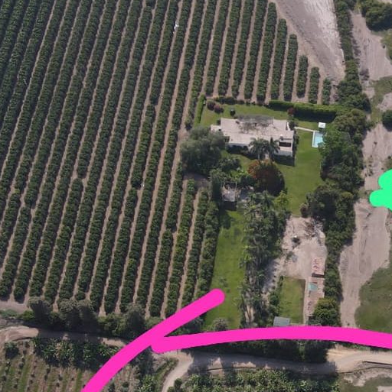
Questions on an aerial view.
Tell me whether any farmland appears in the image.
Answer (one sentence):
Yes, the picture does contain farmland.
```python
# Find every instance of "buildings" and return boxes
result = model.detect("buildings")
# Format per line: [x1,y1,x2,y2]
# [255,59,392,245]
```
[212,118,293,158]
[223,191,237,204]
[274,317,290,329]
[311,258,325,276]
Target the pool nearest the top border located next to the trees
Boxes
[312,131,325,147]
